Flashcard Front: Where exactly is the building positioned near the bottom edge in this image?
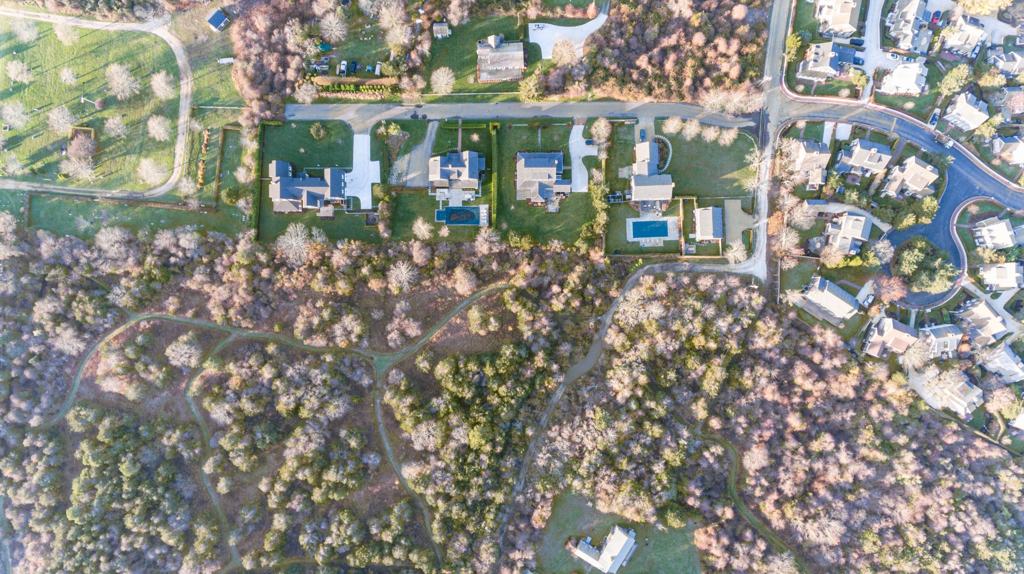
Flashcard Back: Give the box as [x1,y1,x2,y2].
[570,523,641,574]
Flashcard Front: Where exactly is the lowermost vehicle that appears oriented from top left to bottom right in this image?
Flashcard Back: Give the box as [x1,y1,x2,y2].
[935,132,954,147]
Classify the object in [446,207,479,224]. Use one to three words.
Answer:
swimming pool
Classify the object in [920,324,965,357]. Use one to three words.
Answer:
house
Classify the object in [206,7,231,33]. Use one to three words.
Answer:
shed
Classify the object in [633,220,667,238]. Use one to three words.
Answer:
swimming pool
